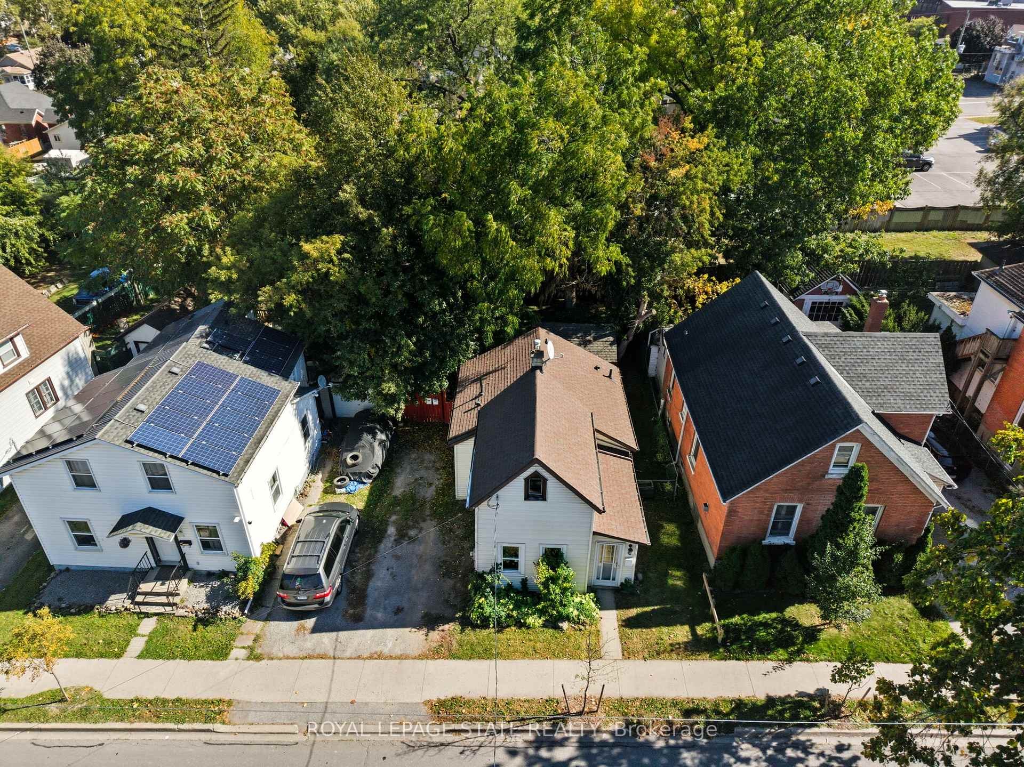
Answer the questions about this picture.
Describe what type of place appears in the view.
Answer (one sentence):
The area seen from above is a residential area.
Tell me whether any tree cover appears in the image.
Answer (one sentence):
Yes, tree cover shows up in the scene.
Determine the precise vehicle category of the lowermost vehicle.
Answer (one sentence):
It turns out the lowermost vehicle is an automobile.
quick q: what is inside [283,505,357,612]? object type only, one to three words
car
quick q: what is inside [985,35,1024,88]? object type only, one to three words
house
